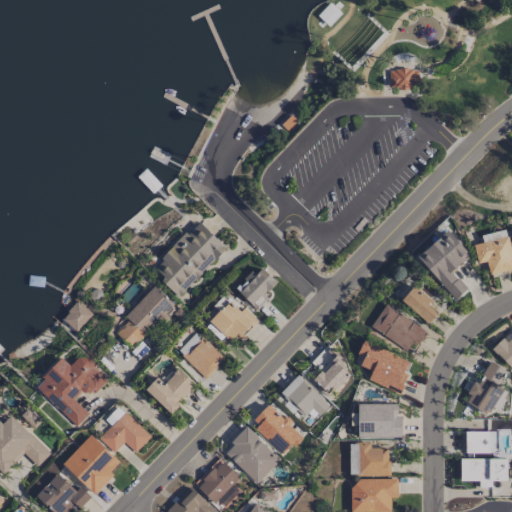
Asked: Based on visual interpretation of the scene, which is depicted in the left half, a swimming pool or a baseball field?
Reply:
swimming pool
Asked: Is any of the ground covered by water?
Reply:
Yes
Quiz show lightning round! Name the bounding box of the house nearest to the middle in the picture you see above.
[241,268,279,306]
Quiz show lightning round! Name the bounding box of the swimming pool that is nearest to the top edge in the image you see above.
[121,283,140,304]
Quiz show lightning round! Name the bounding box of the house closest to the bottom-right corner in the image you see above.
[462,458,510,488]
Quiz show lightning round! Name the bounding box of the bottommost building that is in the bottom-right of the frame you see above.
[353,480,400,512]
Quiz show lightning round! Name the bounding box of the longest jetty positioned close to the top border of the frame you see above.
[192,4,239,83]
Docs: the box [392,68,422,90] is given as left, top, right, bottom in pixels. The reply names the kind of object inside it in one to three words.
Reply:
building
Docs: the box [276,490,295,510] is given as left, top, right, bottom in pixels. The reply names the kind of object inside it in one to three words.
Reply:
swimming pool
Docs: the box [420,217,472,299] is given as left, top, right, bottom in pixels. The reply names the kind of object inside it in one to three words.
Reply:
house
